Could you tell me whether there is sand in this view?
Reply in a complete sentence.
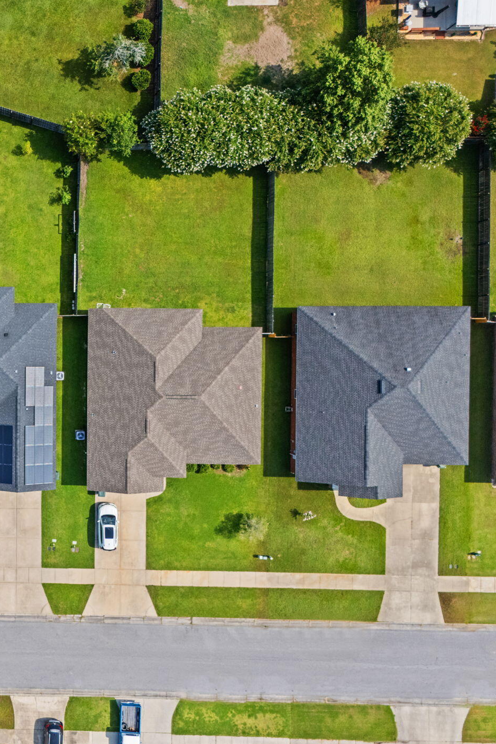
No, sand can't be seen anywhere here.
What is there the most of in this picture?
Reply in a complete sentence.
Most of the picture is covered by grass.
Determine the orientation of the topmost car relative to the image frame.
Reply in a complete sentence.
The topmost car is oriented vertically.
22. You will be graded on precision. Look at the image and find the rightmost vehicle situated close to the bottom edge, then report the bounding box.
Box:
[118,700,144,744]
